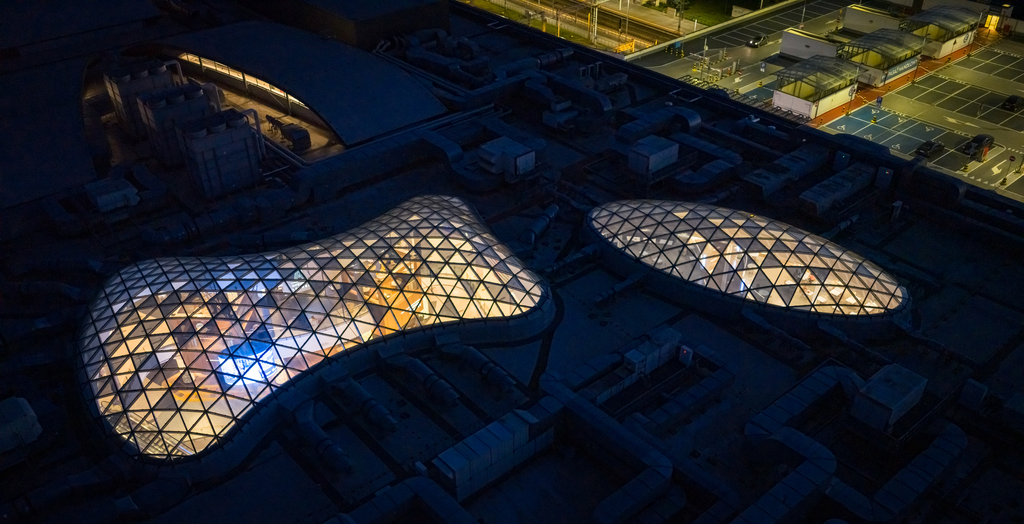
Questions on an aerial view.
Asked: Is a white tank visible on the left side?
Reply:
No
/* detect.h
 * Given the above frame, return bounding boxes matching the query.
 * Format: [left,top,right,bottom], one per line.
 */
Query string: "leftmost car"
[746,30,771,46]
